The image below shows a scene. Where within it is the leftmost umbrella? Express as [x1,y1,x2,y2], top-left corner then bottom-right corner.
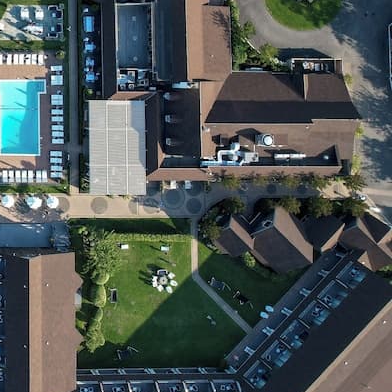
[0,195,14,208]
